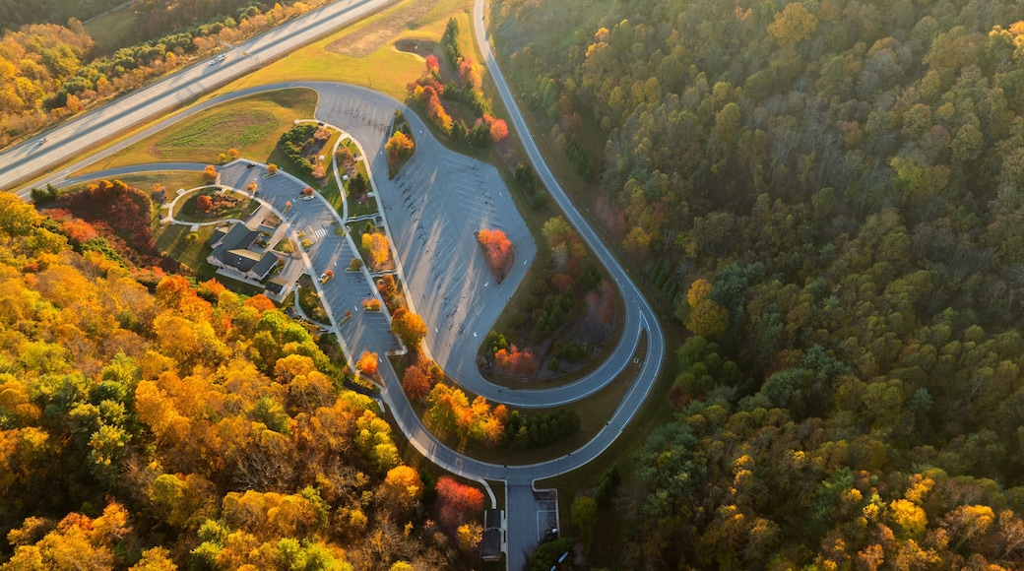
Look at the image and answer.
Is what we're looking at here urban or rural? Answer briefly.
rural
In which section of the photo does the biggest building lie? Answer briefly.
left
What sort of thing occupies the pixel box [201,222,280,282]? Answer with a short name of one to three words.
building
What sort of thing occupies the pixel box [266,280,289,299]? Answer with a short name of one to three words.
building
